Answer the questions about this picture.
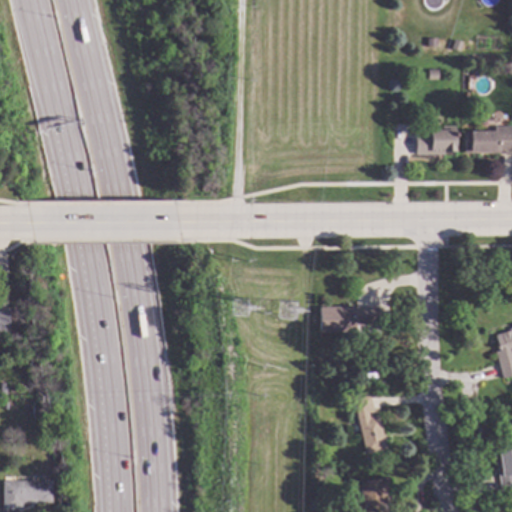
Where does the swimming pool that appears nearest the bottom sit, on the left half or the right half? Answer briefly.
right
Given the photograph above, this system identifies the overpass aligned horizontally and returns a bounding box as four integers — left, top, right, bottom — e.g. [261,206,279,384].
[28,198,182,244]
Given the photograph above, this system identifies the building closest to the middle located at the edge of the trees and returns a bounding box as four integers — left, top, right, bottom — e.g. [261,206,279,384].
[318,307,370,335]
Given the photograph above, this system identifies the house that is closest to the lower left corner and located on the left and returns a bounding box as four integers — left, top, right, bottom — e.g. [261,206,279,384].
[4,479,55,508]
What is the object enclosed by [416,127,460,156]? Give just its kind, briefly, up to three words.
house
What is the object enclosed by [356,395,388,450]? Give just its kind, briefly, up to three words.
house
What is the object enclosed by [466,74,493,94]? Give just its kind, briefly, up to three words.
swimming pool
